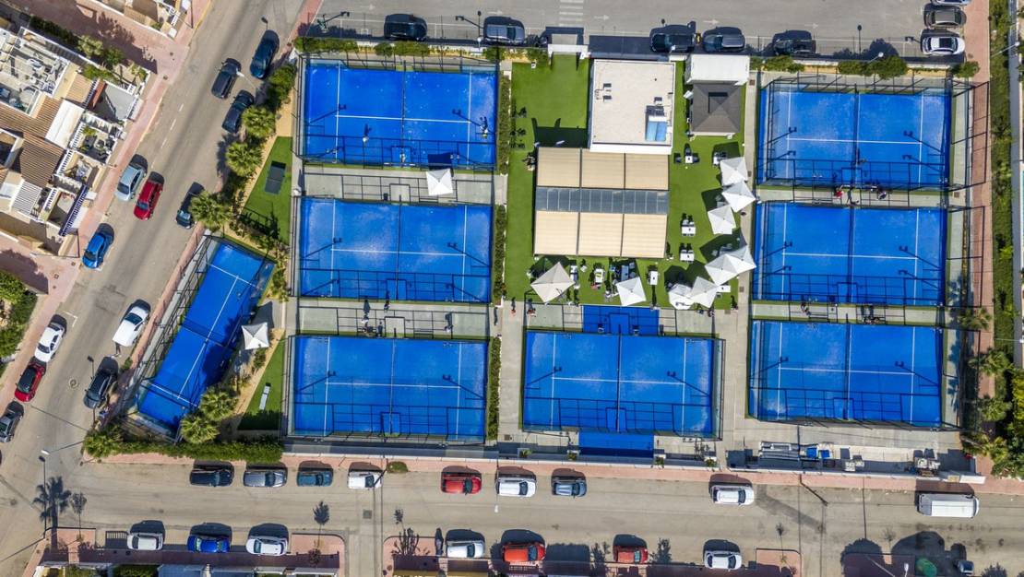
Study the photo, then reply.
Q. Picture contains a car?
Yes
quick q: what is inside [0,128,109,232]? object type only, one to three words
house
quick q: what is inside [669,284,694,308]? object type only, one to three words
umbrella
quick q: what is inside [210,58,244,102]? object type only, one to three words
car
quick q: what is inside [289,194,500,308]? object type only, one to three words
sports court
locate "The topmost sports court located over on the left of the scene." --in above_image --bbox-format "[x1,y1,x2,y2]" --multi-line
[294,45,505,174]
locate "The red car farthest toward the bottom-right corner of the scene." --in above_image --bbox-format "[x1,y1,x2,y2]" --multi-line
[613,544,649,566]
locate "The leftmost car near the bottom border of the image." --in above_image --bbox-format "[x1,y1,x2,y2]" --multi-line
[126,530,167,552]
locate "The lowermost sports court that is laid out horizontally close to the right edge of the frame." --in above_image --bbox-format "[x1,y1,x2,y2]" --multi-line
[745,316,980,435]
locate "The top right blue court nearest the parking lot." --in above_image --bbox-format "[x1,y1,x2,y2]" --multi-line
[753,69,990,196]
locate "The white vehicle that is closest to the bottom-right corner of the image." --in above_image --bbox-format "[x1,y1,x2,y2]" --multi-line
[912,493,974,520]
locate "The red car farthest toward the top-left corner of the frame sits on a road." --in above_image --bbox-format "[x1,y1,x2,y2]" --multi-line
[133,176,167,220]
